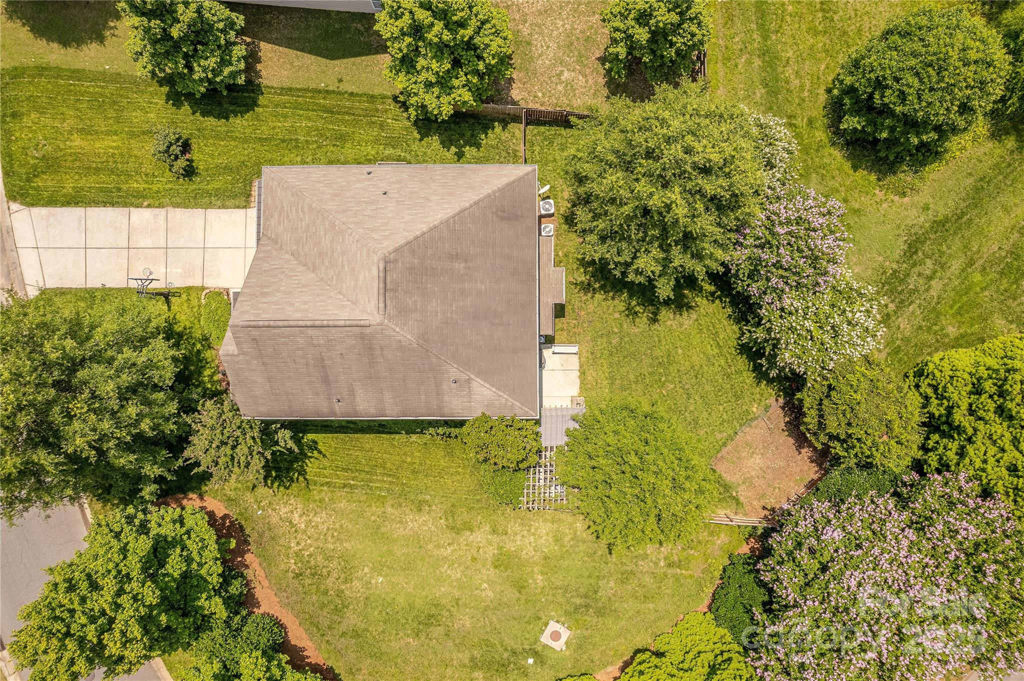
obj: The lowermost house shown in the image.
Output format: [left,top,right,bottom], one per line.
[219,162,566,421]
